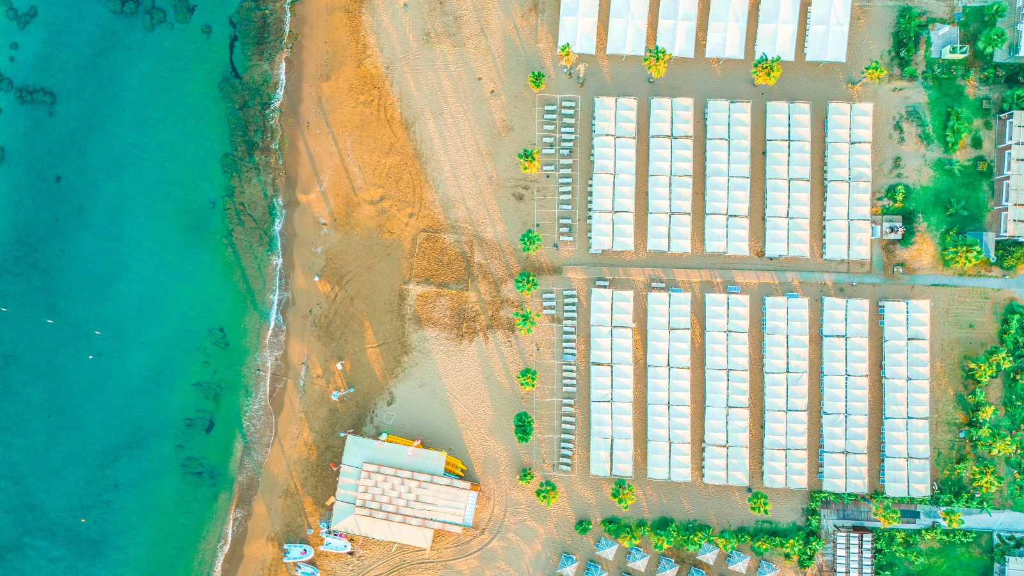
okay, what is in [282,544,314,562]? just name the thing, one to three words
boat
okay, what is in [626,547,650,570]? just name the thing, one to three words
umbrella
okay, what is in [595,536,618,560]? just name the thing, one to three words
umbrella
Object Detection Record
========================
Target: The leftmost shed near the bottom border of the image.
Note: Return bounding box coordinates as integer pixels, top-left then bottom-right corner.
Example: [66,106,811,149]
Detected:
[329,433,480,548]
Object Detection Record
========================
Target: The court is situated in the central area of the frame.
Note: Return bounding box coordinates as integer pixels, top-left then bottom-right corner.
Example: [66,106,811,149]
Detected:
[405,234,475,348]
